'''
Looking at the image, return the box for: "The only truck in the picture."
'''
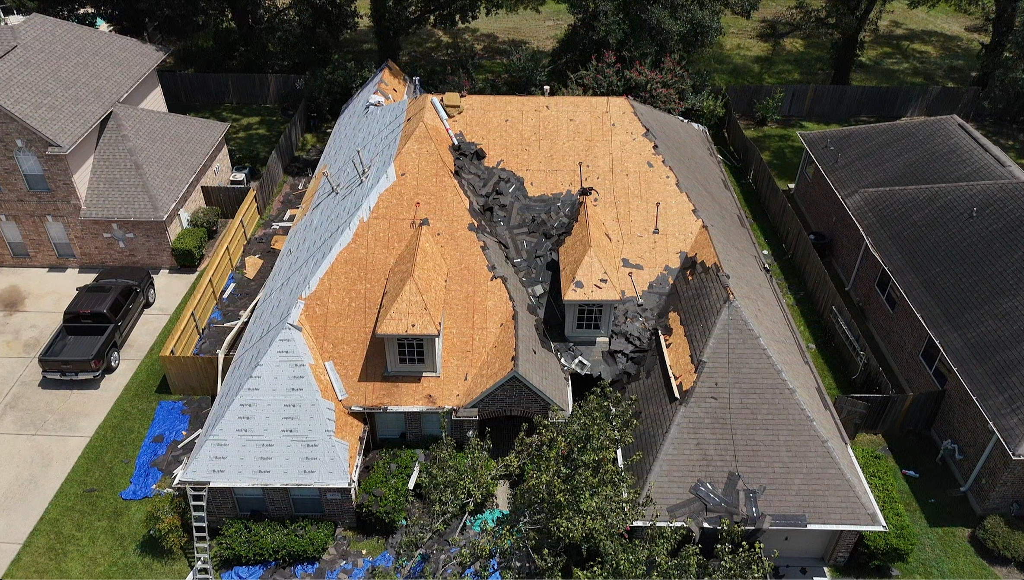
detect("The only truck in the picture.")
[36,268,164,384]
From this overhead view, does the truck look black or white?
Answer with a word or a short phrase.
black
